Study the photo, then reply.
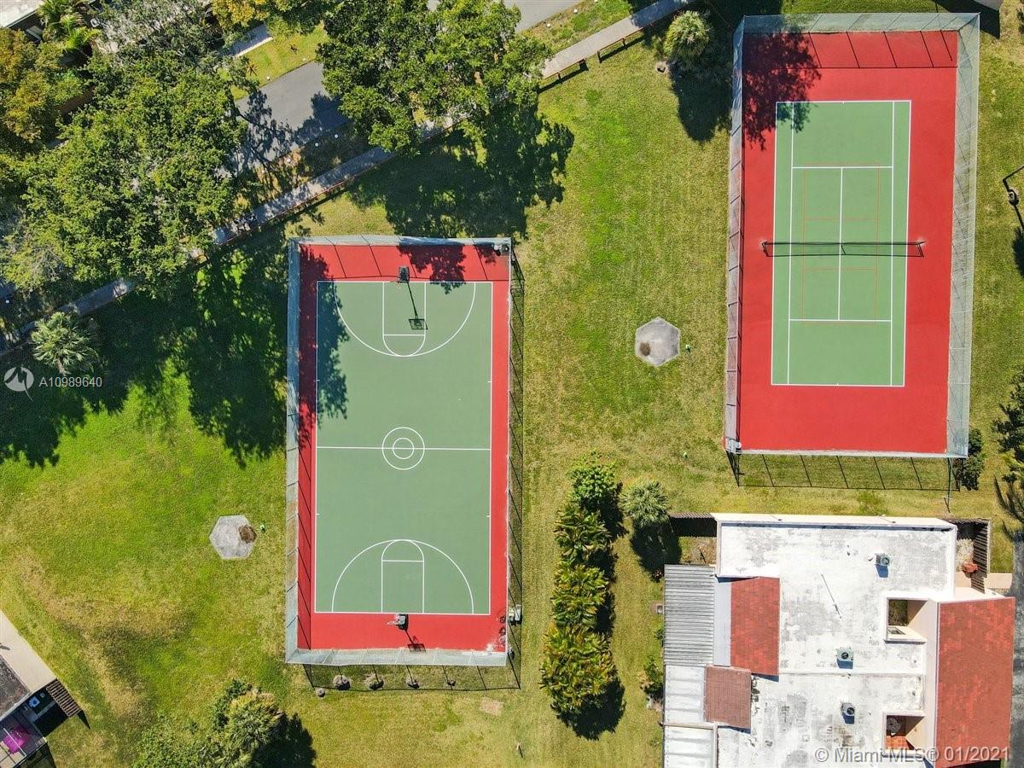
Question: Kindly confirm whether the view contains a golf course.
No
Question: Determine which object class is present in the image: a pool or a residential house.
residential house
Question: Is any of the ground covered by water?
No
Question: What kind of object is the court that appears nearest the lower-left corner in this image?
basketball court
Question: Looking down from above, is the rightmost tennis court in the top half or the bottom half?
top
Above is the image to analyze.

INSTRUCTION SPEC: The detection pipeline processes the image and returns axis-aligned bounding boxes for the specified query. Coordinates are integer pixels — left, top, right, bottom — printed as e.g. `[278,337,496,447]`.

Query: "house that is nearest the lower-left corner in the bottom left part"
[0,611,56,728]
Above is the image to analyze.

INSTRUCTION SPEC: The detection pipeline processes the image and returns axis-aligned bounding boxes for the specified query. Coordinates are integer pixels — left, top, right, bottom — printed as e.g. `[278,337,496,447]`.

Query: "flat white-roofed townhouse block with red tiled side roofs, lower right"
[660,514,1016,768]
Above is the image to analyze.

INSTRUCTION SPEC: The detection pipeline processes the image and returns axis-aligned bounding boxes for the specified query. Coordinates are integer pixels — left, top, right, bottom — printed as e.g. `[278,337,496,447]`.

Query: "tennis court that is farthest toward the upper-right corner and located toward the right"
[724,29,960,453]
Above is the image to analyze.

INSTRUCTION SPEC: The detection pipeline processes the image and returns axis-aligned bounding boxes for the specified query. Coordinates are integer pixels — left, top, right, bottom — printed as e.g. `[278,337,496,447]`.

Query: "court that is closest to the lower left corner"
[295,243,511,654]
